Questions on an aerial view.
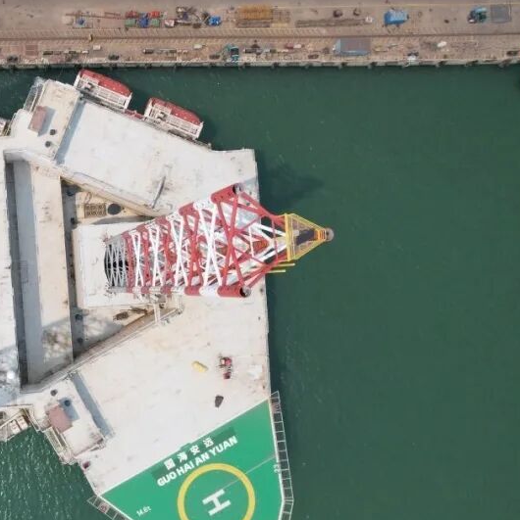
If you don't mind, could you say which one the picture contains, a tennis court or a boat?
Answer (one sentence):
The one in the frame is a boat.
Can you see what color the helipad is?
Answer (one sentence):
From above, the helipad appears green.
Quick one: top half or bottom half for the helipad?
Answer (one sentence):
The bottom half of the photo is where the helipad is.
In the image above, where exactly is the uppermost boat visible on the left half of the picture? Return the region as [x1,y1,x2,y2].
[72,66,134,111]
